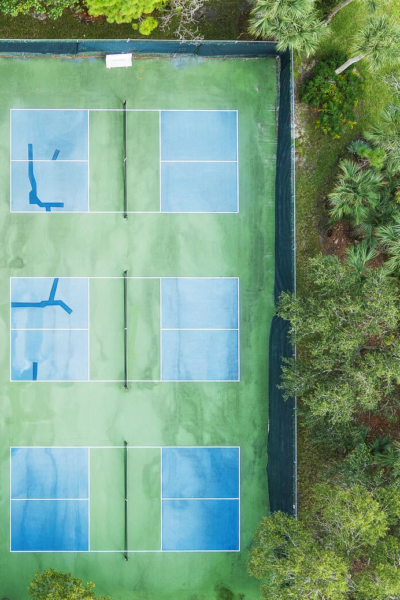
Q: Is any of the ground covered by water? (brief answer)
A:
No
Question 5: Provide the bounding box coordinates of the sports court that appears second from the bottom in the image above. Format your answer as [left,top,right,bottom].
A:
[10,277,239,382]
